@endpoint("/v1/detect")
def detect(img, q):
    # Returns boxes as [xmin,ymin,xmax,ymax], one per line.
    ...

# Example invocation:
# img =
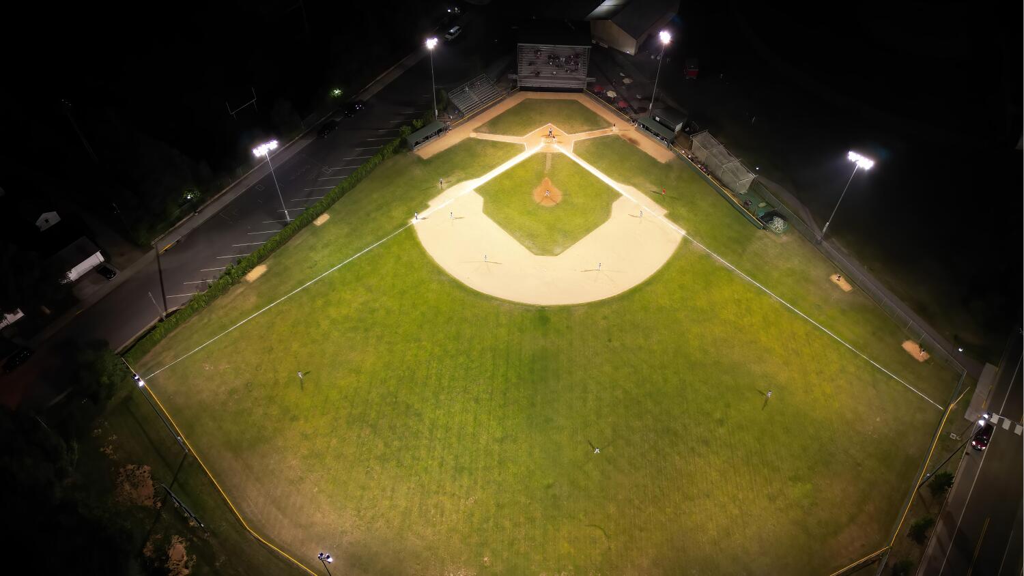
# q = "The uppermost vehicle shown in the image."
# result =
[443,24,460,39]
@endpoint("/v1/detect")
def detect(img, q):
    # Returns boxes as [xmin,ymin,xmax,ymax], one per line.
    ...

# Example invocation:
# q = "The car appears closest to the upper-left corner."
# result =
[94,262,118,280]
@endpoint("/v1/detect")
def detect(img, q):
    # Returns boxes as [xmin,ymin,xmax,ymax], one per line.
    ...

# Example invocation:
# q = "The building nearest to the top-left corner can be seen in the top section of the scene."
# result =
[9,188,61,233]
